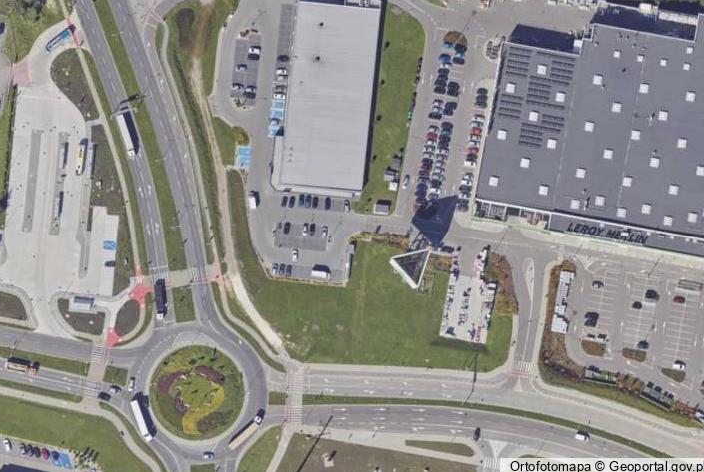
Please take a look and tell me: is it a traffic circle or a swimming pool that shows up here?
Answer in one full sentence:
It is a traffic circle that can be seen here.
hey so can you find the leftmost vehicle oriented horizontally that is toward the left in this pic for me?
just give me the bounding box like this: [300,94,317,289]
[7,360,37,374]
